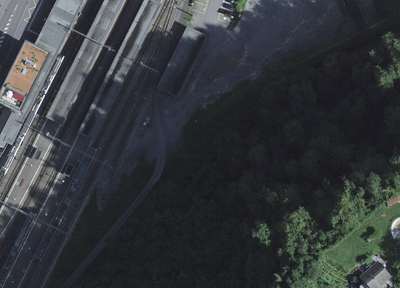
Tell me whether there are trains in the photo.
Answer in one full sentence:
Yes, there's a train here.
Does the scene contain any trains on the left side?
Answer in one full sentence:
Yes, a train can be seen on the left side.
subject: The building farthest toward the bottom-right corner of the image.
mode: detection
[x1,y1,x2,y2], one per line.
[358,262,392,288]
